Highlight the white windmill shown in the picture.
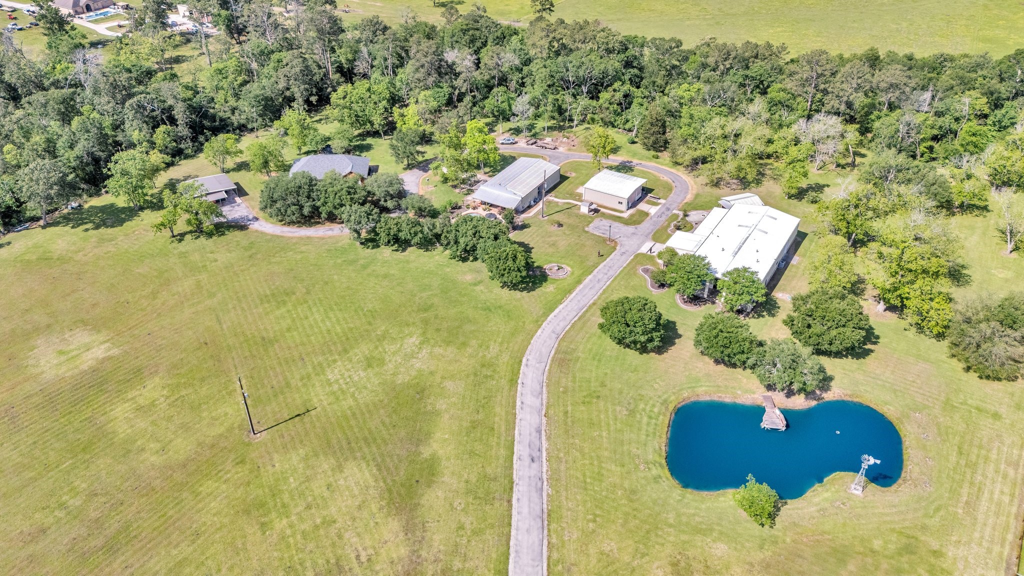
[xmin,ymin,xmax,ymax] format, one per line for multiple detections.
[850,456,881,494]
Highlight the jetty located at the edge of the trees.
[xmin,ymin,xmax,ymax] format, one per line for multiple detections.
[759,396,788,434]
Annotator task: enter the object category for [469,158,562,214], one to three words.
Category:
building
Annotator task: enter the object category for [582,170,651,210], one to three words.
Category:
building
